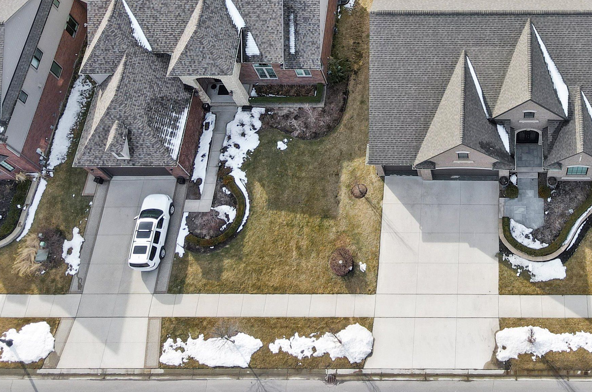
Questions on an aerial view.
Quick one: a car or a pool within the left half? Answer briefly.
car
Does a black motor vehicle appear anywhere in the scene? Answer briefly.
No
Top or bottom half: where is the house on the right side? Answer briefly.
top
